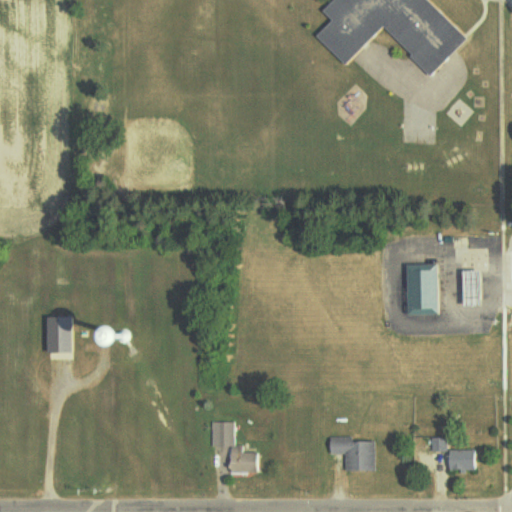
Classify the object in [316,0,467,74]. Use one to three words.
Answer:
building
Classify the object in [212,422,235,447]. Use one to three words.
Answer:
building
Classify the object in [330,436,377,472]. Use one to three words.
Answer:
house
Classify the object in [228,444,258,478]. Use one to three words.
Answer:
house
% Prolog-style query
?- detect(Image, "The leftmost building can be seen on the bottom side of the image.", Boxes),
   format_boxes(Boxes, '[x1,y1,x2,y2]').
[47,317,74,352]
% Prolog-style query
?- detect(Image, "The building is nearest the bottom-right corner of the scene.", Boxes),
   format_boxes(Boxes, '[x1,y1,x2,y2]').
[448,450,474,473]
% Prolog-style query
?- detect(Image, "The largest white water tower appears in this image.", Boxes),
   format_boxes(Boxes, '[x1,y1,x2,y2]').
[92,327,132,349]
